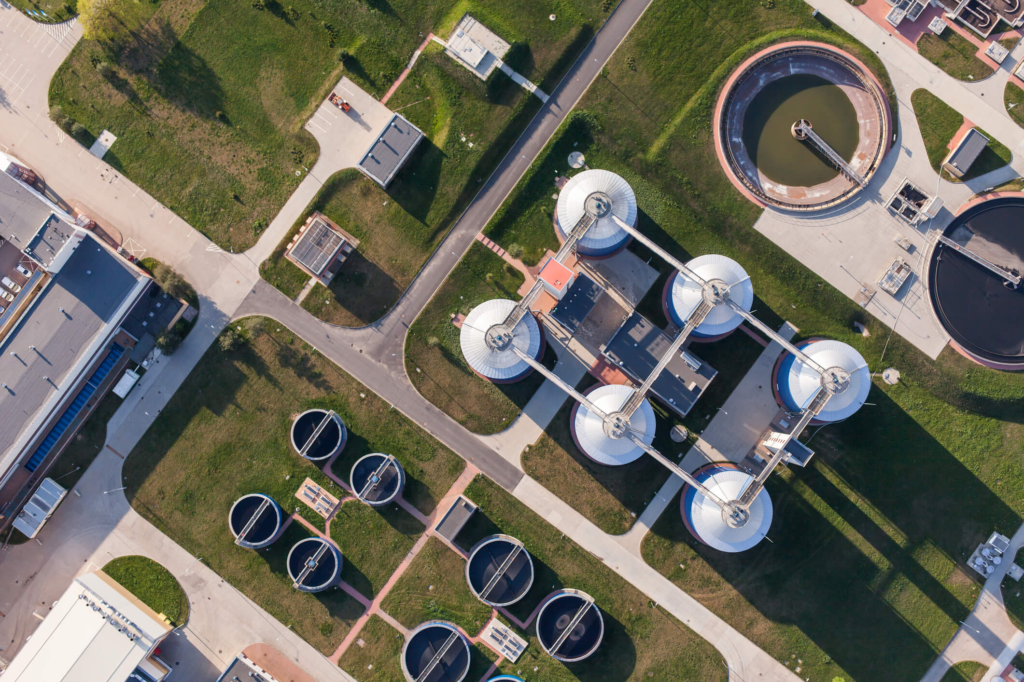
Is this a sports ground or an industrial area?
industrial area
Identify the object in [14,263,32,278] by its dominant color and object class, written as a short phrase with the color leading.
white car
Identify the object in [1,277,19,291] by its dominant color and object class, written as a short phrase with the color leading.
white car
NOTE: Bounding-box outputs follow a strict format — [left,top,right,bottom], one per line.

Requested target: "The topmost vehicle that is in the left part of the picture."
[324,89,352,111]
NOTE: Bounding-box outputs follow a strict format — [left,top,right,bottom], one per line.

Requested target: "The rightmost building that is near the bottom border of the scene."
[217,651,282,682]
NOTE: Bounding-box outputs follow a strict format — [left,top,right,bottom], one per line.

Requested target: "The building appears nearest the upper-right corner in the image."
[941,127,989,178]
